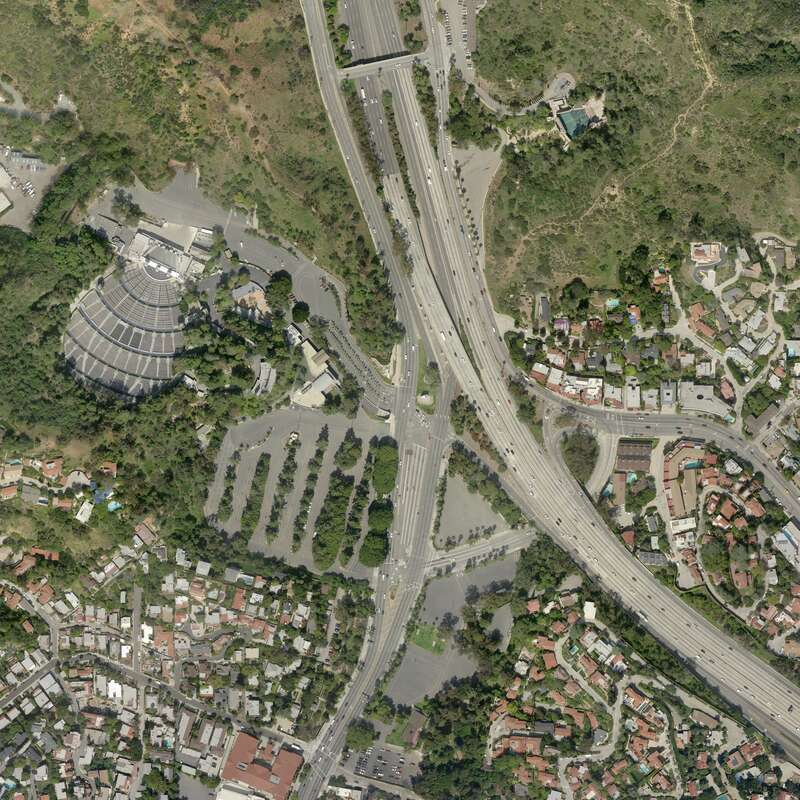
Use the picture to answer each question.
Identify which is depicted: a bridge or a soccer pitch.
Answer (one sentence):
Visible in the photo is a bridge.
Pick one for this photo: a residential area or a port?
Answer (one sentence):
This image shows a residential area.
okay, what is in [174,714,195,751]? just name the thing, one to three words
shed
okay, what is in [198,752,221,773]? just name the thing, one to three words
house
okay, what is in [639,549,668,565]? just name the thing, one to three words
building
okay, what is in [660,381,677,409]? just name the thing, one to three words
house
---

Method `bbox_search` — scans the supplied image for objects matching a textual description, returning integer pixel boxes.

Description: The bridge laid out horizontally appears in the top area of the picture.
[333,47,435,79]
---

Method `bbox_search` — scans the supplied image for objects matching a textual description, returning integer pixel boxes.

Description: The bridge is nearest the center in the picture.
[382,171,527,459]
